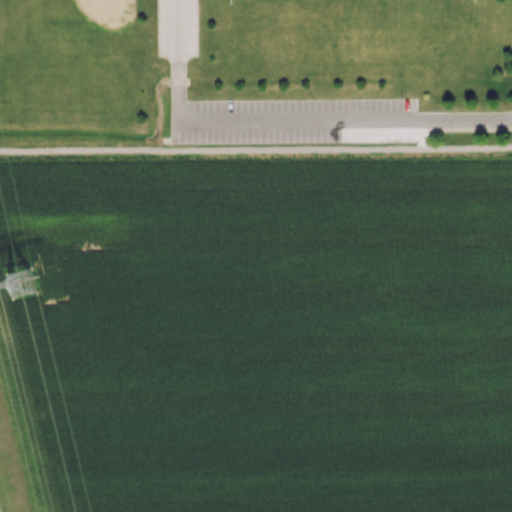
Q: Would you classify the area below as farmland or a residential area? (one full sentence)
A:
It's farmland.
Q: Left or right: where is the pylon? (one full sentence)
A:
It is on the left.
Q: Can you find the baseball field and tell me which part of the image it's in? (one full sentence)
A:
The baseball field is in the top left part of the image.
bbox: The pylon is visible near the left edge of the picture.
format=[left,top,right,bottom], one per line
[0,268,40,300]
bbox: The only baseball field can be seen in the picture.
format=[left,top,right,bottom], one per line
[76,0,138,30]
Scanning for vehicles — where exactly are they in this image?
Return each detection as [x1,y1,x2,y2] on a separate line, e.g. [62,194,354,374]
[228,99,234,113]
[406,100,410,111]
